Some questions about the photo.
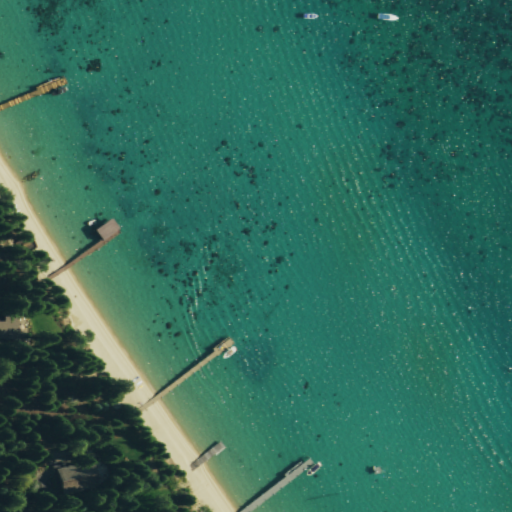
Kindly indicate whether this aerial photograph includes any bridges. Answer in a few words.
No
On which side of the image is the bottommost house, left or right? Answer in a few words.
left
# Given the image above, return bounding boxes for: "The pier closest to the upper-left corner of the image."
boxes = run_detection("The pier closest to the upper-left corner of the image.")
[0,74,68,110]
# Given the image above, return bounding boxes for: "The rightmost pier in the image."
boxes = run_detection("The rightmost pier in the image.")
[242,458,314,512]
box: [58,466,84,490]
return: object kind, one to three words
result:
house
